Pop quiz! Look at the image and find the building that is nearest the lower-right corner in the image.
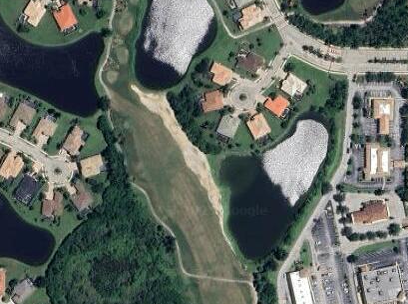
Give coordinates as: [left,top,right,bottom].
[361,266,407,304]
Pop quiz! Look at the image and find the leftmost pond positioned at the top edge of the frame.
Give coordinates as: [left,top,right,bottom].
[134,0,217,89]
